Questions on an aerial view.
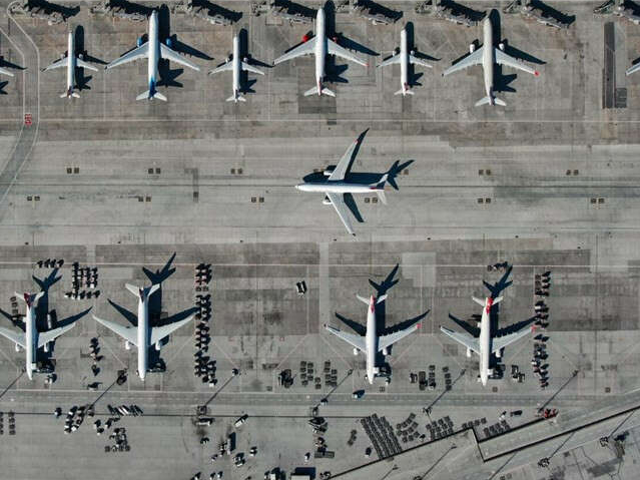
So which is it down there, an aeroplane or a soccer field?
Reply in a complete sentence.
Of the two, only an aeroplane appears.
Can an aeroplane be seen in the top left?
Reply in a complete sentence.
Yes, an aeroplane appears in the top left.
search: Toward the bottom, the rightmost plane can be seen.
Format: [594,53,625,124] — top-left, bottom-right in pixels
[440,300,535,385]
